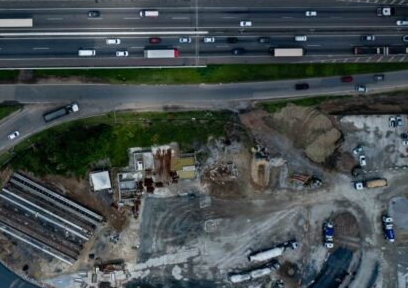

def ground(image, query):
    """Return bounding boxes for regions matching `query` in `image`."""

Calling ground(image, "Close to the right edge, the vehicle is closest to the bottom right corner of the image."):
[380,214,396,244]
